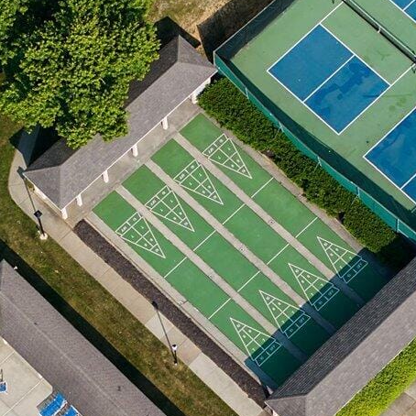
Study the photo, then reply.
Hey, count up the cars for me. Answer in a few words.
0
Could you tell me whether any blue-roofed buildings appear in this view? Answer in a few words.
No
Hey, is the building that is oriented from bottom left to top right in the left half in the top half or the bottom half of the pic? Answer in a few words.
top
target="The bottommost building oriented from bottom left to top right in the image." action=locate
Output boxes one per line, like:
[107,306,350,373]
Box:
[266,256,416,416]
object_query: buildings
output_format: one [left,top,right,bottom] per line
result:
[0,261,163,416]
[266,256,416,416]
[24,34,218,222]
